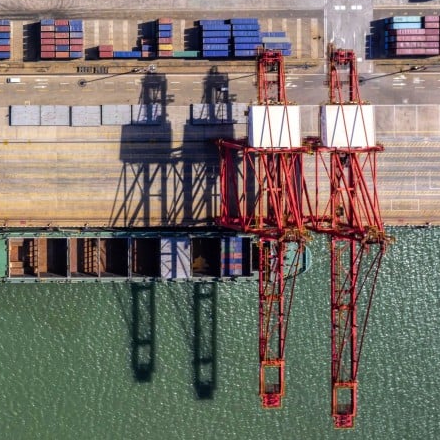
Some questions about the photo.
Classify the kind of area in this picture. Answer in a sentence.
The area seen from above is a port.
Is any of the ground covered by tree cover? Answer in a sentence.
No, the picture contains no tree cover.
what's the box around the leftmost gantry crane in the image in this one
[202,47,313,409]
